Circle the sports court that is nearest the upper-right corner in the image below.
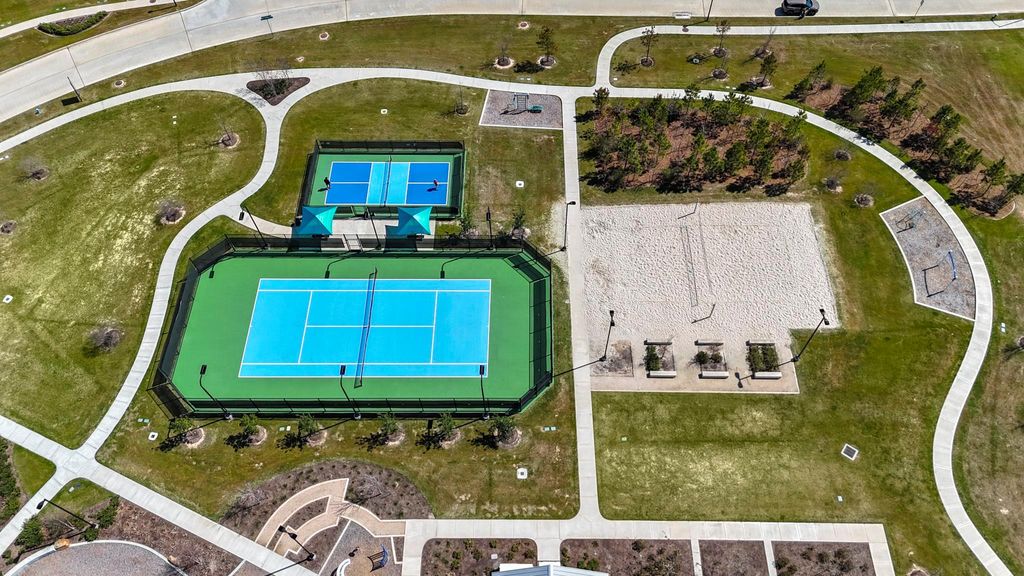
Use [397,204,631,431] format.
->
[580,203,839,336]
